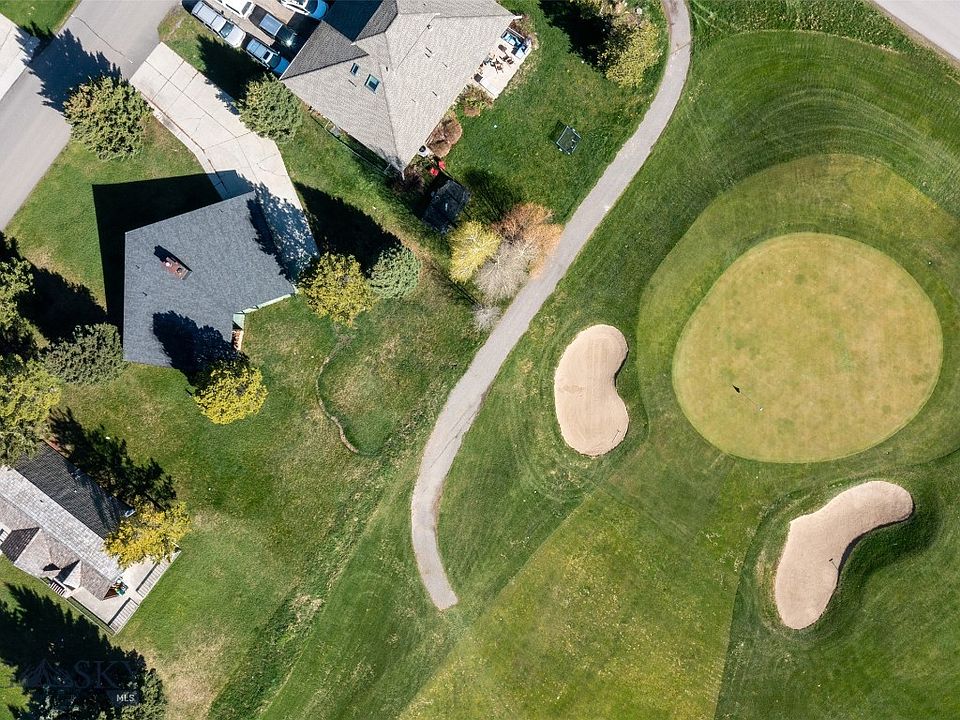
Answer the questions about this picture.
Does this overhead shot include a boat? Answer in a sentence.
No, the picture doesn't show any boat.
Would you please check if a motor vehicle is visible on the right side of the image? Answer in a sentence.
No, on the right side of the image there is no motor vehicle.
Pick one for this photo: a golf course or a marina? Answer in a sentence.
This looks like a golf course.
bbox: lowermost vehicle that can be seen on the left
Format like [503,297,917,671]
[242,35,291,79]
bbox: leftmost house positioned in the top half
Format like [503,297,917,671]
[123,190,302,372]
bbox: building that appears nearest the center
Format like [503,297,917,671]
[421,180,472,234]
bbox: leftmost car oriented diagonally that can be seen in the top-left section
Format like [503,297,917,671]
[188,0,248,51]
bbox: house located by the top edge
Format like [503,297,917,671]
[279,0,523,172]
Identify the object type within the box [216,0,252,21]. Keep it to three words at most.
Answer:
car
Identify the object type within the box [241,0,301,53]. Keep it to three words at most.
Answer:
truck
